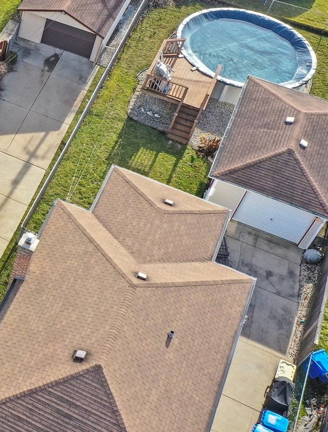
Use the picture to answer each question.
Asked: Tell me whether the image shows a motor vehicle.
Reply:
No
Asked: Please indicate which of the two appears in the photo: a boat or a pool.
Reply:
pool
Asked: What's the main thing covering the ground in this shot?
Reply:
buildings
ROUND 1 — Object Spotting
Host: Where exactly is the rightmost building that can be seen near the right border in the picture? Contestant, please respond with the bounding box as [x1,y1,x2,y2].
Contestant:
[203,74,328,248]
